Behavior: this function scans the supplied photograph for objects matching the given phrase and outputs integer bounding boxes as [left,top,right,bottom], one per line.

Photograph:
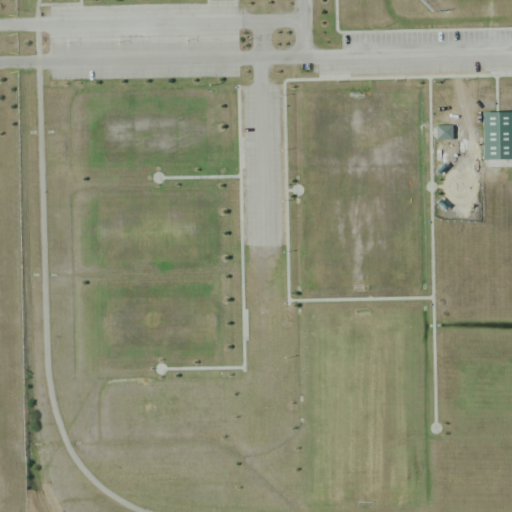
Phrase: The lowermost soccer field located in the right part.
[304,306,422,506]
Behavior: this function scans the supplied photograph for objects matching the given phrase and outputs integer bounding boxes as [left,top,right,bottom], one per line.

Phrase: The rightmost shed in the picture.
[484,110,512,158]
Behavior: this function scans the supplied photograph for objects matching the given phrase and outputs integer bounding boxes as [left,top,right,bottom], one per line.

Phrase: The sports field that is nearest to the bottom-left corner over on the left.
[84,284,221,360]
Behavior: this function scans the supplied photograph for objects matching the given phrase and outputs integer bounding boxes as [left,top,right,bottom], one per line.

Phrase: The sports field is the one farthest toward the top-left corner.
[88,92,222,172]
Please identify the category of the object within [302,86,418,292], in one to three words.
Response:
soccer field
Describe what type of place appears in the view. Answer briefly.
sports ground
